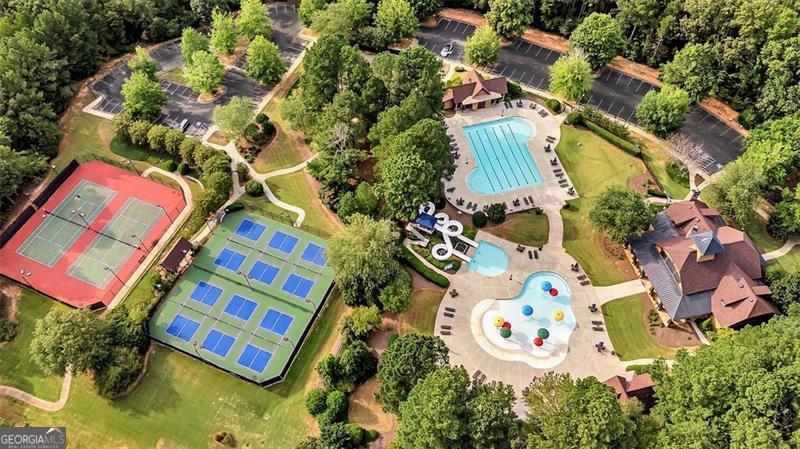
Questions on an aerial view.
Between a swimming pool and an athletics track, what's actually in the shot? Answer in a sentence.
I can see a swimming pool in this picture.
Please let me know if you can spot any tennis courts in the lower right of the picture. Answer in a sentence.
No, the scene shows no tennis court in the lower right of the picture.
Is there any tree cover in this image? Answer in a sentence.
Yes, the picture does contain tree cover.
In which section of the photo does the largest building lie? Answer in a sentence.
The largest building appears toward the right of the photo.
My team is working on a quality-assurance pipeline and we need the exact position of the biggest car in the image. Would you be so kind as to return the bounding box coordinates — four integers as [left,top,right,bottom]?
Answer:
[177,117,190,130]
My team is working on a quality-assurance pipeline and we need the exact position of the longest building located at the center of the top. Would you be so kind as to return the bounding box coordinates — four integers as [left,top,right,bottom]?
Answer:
[439,71,508,112]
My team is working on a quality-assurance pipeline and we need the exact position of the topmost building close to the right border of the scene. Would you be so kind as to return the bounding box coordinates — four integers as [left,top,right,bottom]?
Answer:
[622,181,777,333]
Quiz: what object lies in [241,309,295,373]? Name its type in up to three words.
sports court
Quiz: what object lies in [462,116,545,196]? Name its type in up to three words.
swimming pool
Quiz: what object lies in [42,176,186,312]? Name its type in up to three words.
tennis court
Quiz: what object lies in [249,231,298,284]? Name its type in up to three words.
sports court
